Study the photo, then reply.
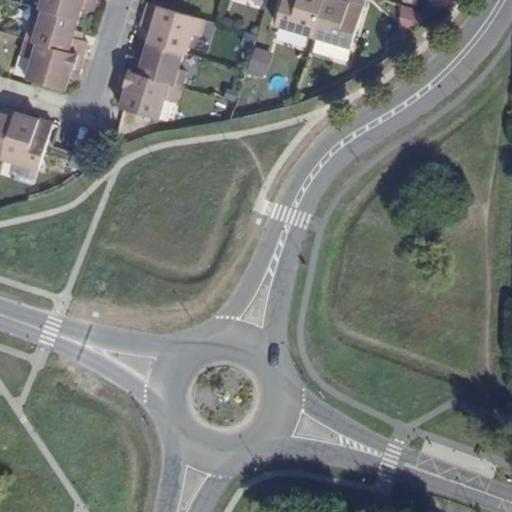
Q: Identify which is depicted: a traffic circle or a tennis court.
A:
traffic circle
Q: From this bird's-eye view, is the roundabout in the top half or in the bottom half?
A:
bottom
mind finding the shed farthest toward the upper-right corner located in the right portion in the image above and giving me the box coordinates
[400,3,416,28]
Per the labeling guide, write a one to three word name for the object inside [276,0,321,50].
house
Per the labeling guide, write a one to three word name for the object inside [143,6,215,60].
house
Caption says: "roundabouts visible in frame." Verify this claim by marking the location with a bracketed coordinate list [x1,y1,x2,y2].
[149,321,299,471]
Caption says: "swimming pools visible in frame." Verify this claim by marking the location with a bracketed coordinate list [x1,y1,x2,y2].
[270,74,290,92]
